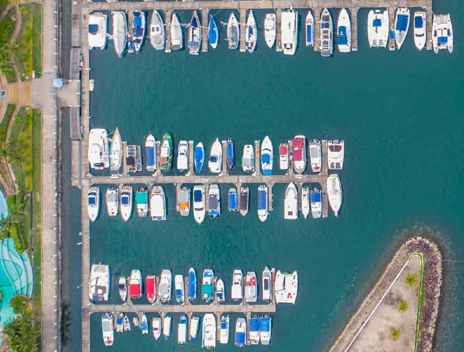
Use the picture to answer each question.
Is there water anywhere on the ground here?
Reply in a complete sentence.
Yes, water shows up in the scene.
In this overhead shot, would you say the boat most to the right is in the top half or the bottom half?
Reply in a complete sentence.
You can find the boat most to the right in the top half.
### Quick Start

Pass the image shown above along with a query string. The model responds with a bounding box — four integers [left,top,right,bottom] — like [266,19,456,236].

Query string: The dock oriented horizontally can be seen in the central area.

[89,140,330,218]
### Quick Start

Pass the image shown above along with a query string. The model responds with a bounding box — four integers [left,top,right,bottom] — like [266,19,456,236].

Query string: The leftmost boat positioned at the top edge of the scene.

[88,12,108,50]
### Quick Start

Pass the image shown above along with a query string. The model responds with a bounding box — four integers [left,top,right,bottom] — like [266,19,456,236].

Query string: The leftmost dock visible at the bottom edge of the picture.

[89,268,278,345]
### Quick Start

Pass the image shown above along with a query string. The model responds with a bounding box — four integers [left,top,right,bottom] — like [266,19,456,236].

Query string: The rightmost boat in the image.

[432,14,452,52]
